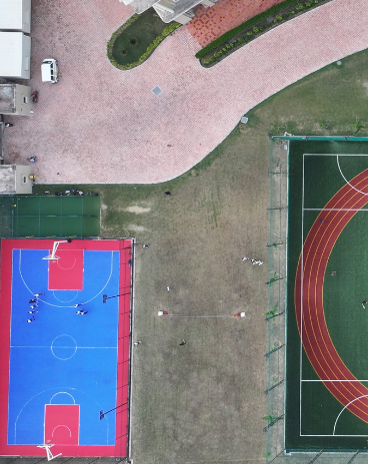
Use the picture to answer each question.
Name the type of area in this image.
sports ground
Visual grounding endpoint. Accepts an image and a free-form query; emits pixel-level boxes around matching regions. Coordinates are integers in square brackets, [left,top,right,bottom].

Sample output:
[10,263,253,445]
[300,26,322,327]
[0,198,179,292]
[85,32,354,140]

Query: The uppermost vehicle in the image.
[40,59,58,84]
